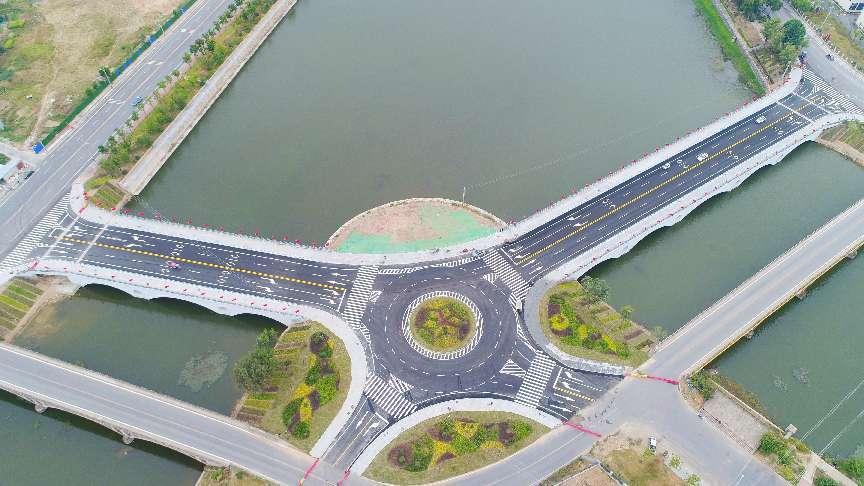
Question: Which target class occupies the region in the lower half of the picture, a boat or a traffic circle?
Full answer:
You can see a traffic circle in the lower half of the picture.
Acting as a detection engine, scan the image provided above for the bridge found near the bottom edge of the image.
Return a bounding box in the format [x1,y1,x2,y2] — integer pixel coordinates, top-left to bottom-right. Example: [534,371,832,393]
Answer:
[0,342,233,464]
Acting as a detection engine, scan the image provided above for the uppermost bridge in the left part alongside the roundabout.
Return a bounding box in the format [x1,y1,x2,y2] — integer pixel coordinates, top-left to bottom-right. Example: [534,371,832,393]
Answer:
[0,193,357,324]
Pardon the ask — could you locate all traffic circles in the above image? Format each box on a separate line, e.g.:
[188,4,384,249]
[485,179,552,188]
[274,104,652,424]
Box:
[320,243,624,472]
